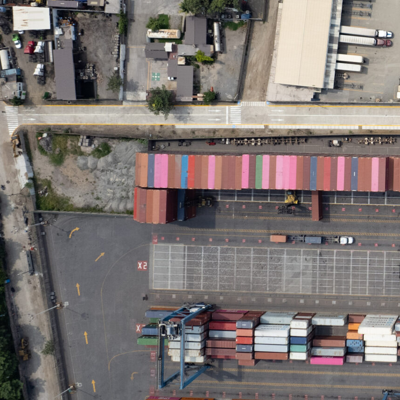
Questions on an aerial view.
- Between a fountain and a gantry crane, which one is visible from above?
gantry crane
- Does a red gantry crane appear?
No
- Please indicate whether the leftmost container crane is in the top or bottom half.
bottom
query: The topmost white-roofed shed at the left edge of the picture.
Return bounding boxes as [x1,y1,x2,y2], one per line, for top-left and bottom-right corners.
[13,6,55,31]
